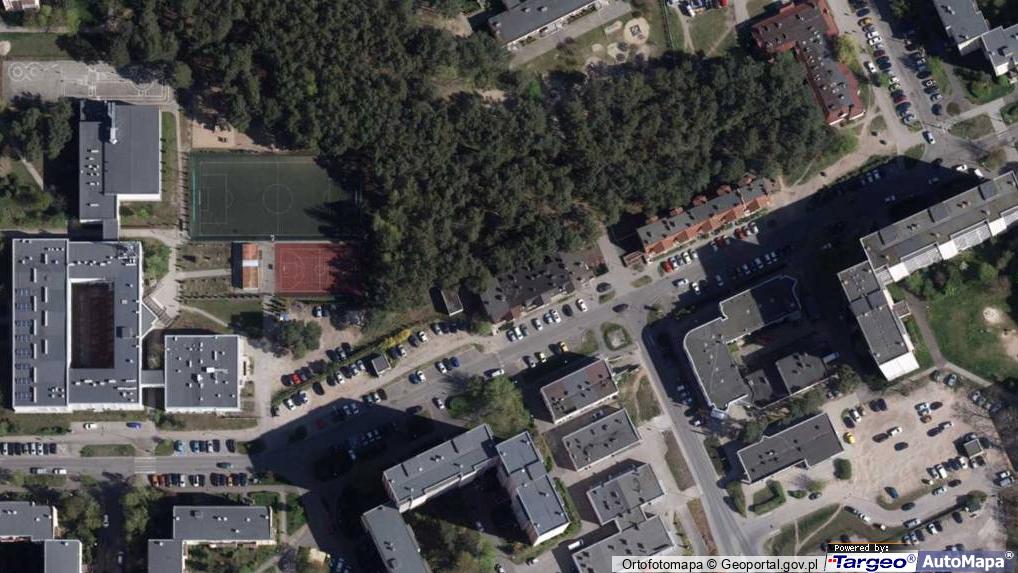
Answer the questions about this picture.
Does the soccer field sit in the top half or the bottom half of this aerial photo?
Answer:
top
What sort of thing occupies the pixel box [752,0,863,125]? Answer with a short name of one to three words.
building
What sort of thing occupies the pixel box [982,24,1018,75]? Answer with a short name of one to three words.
building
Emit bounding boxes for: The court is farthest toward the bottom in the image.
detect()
[274,244,361,293]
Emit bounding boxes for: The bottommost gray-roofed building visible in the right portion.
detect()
[573,516,675,573]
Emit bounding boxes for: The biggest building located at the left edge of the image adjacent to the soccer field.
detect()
[13,239,157,411]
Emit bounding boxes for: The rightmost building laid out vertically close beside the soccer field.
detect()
[243,244,258,290]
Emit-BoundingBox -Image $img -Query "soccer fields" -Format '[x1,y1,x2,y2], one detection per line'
[190,152,362,239]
